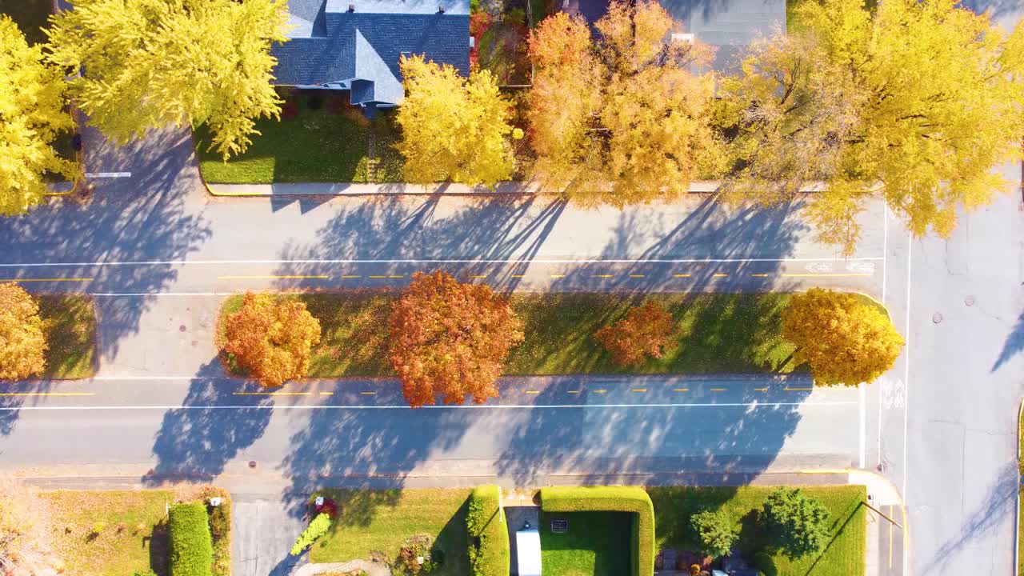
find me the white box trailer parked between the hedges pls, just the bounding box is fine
[516,519,542,576]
